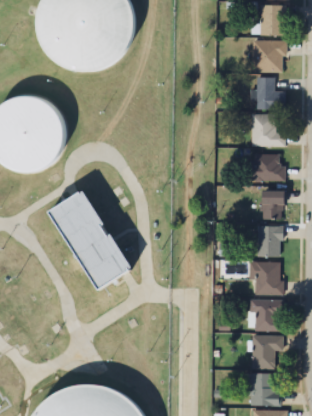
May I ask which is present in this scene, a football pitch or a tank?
tank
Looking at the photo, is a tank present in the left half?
Yes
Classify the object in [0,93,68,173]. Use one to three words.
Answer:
storage tank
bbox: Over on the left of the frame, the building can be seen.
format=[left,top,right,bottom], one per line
[48,189,133,288]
